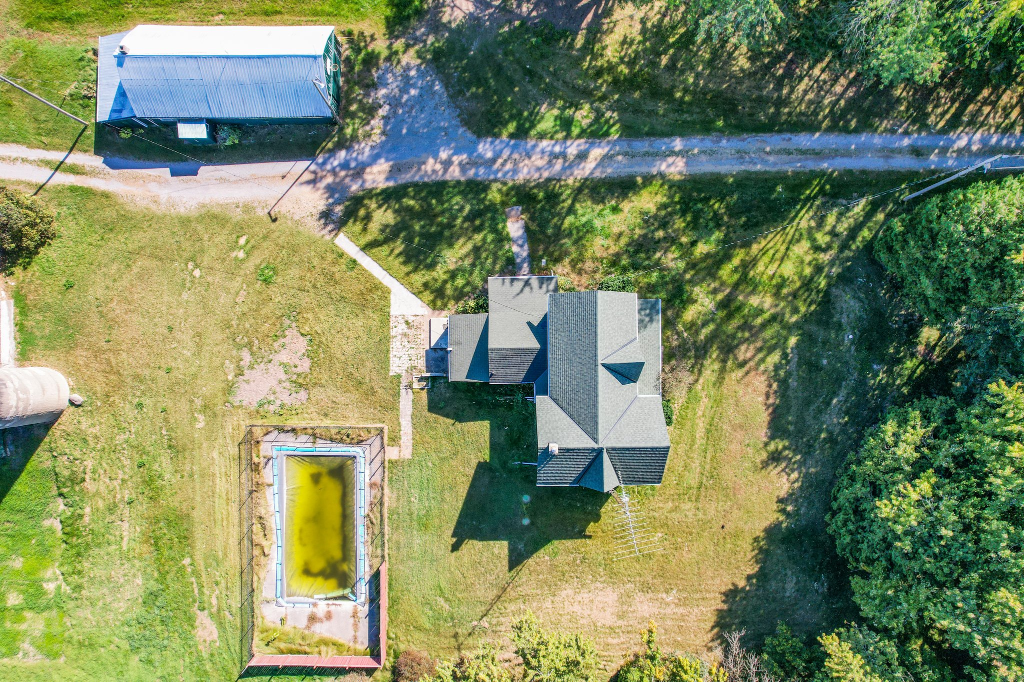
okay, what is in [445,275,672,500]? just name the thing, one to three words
house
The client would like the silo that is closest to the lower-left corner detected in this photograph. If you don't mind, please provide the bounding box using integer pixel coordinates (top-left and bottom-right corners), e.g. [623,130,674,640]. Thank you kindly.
[0,367,69,430]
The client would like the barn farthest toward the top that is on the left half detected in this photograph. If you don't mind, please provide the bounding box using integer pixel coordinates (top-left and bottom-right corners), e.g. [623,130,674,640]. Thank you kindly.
[97,24,342,148]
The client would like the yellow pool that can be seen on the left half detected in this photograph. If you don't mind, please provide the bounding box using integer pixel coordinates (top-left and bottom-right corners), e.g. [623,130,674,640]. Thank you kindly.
[270,444,368,607]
